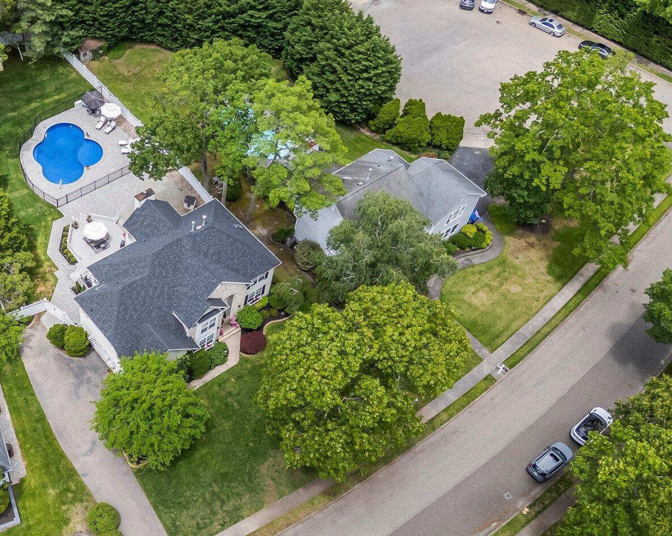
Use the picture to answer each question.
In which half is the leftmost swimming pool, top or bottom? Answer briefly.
top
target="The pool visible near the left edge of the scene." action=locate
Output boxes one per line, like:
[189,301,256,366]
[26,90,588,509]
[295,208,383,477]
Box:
[32,122,104,185]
